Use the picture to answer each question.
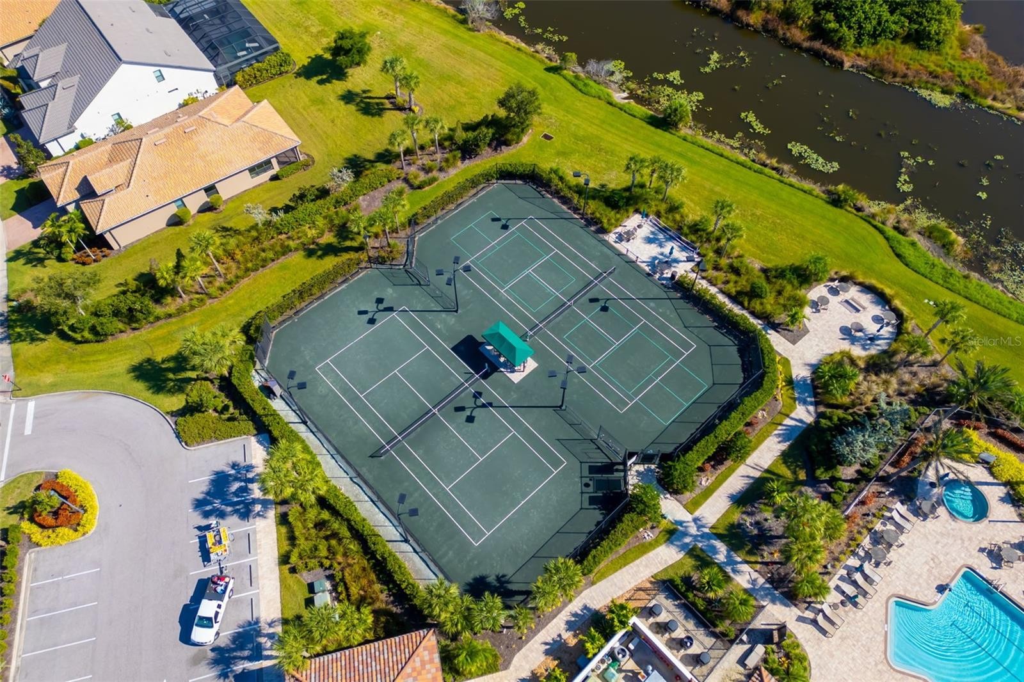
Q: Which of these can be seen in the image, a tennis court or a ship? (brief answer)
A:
tennis court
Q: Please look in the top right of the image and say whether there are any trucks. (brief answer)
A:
No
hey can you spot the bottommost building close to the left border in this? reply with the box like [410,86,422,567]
[38,85,303,246]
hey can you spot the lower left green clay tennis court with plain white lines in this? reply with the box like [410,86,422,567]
[266,268,627,605]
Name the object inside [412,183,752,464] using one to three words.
tennis court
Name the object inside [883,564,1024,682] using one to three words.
swimming pool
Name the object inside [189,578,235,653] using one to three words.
truck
